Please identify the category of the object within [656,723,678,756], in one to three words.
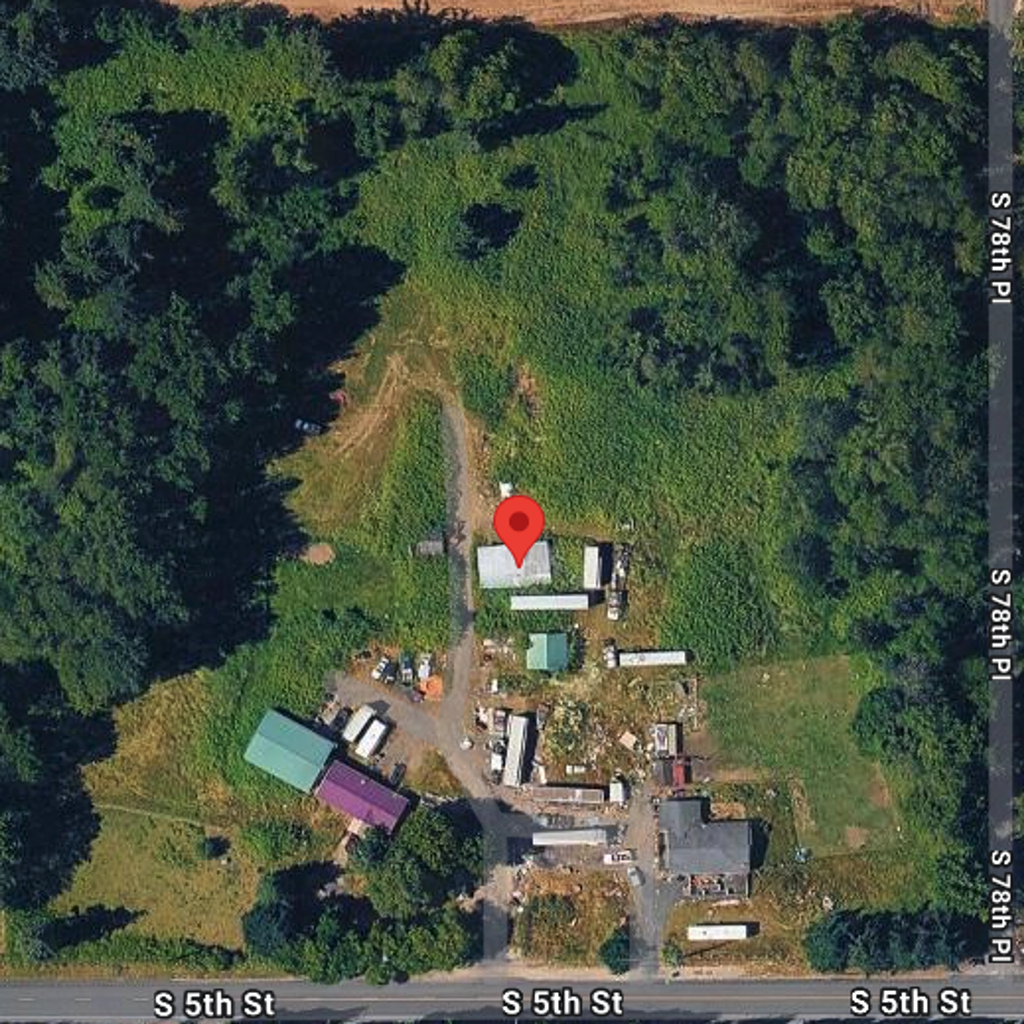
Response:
shed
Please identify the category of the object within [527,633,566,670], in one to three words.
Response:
shed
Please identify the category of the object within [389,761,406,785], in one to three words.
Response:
vehicle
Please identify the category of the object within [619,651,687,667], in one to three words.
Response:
trailer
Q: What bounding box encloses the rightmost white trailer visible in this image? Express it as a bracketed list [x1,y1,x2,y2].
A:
[688,925,748,939]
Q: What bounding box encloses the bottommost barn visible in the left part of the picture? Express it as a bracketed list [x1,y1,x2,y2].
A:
[315,760,408,834]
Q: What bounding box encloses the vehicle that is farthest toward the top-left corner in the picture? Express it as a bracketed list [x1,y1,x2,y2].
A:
[294,419,321,431]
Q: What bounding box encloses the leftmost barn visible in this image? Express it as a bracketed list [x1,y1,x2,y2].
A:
[244,709,337,793]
